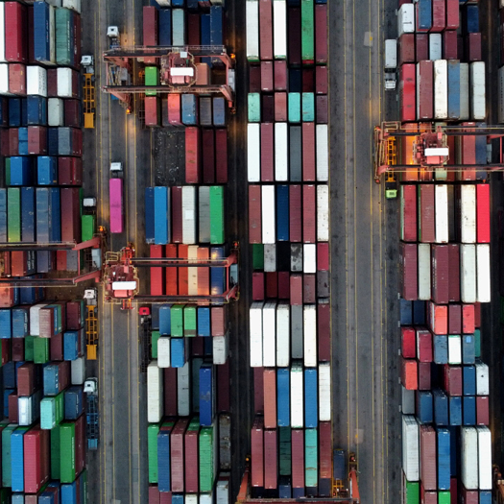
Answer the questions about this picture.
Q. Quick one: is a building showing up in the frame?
No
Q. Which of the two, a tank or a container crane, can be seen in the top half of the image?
container crane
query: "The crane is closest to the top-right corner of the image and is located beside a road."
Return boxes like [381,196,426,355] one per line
[374,118,504,184]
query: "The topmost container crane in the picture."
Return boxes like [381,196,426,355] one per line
[93,40,241,117]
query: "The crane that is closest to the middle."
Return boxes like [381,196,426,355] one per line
[96,238,242,307]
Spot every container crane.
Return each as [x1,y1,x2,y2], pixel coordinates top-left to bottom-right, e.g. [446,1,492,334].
[96,238,242,307]
[0,224,108,289]
[374,118,504,184]
[224,448,364,504]
[93,40,241,117]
